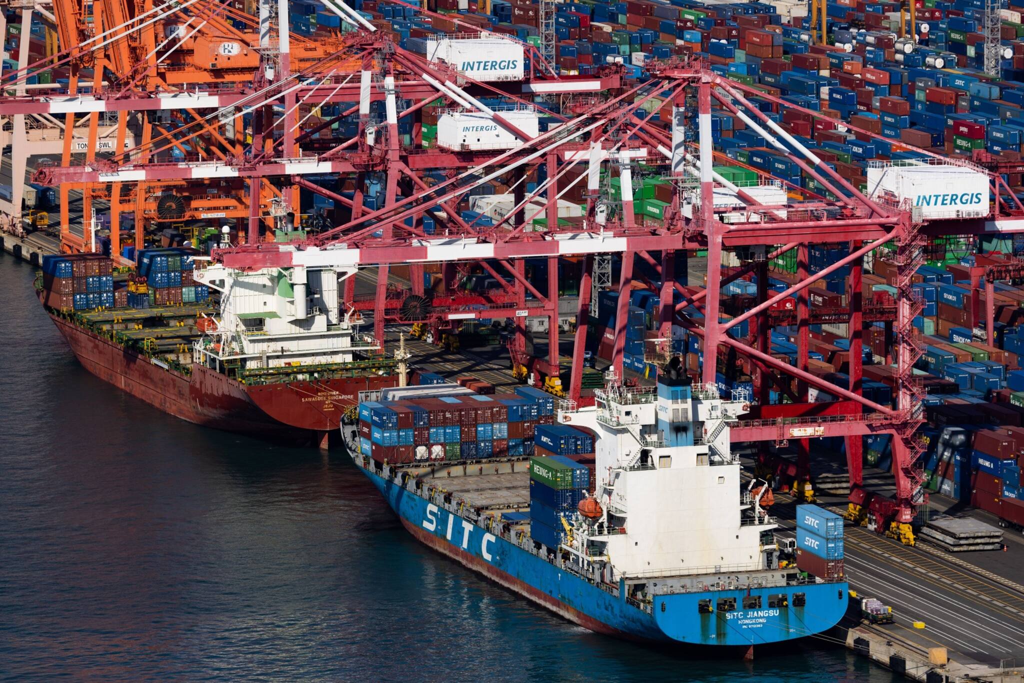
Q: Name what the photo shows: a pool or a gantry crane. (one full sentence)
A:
Visible in the photo is a gantry crane.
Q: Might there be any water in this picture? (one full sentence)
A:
Yes, water shows up in the scene.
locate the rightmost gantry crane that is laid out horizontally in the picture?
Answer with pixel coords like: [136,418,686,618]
[929,149,1024,182]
